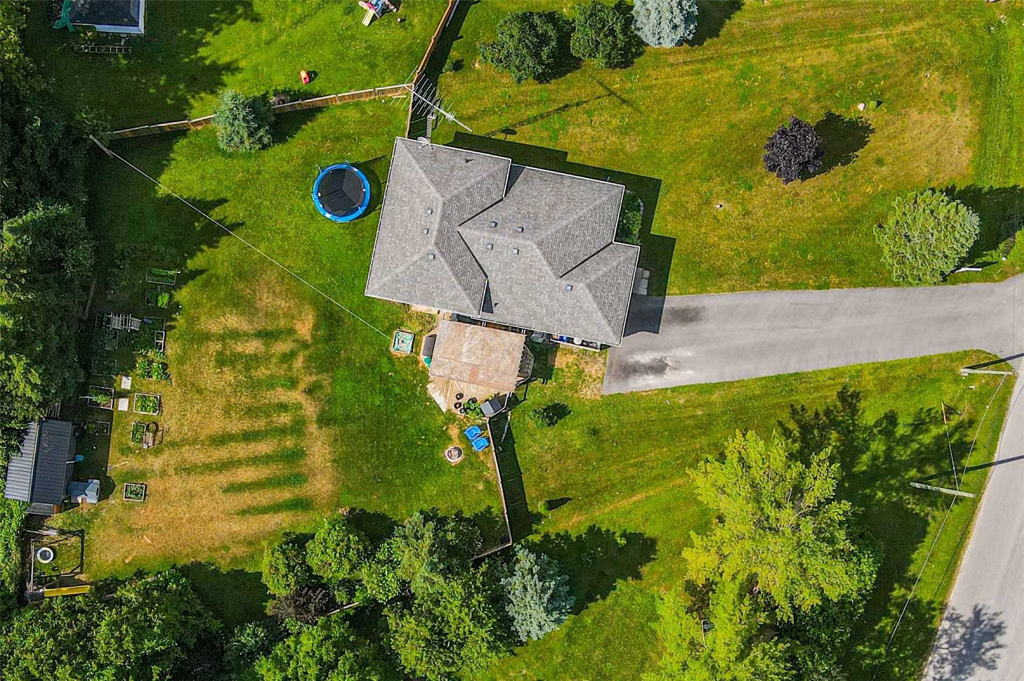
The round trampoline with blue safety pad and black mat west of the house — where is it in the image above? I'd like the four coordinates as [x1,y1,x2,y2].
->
[306,157,371,222]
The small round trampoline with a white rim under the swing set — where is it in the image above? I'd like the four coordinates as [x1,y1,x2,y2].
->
[37,547,54,564]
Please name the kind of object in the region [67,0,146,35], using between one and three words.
shed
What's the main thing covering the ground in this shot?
grass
